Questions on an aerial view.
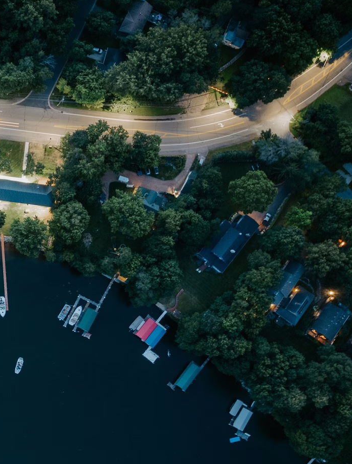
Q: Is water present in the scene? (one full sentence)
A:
Yes, water can be seen from above here.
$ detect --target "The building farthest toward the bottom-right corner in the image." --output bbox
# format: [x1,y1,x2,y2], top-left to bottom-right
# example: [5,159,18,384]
[304,302,350,345]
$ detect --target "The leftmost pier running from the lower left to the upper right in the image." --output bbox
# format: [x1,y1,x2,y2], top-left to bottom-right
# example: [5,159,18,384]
[64,273,119,339]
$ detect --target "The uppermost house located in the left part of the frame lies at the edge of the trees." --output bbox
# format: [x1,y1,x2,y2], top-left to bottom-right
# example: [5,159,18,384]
[114,0,167,43]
